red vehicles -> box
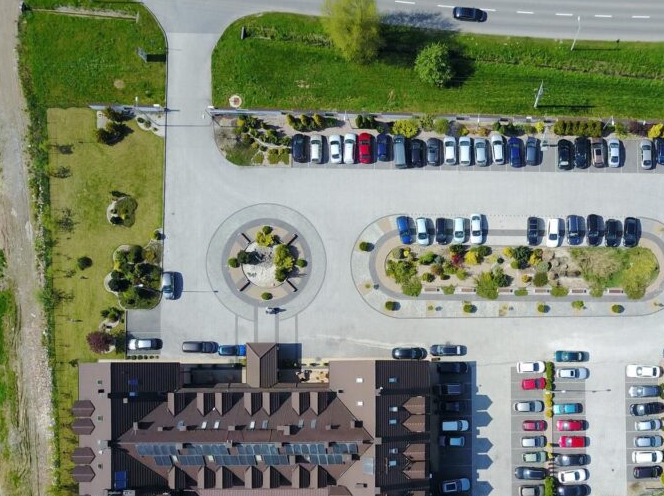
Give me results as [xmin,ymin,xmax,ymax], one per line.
[520,377,547,390]
[358,133,373,165]
[559,435,586,448]
[522,419,547,432]
[557,419,585,432]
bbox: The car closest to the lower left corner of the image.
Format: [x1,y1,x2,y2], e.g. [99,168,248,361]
[131,337,163,351]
